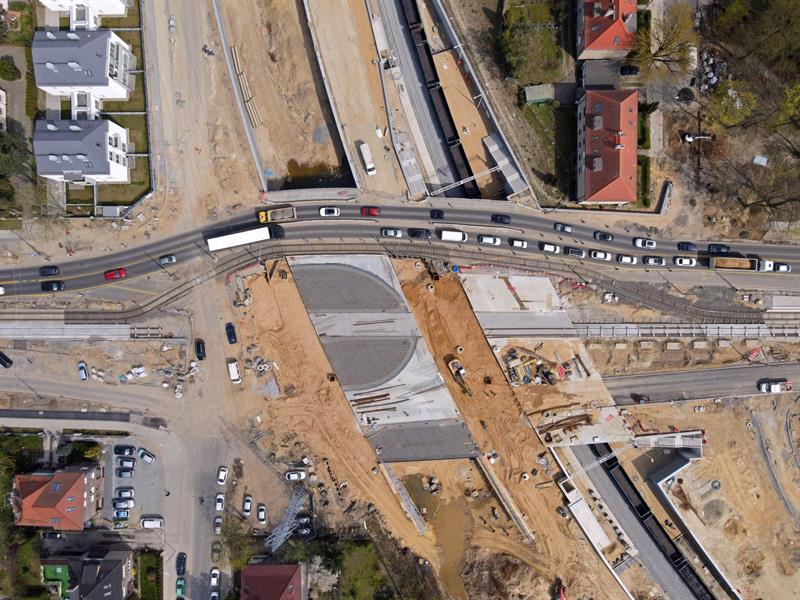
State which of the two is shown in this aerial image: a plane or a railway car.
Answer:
railway car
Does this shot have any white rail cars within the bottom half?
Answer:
No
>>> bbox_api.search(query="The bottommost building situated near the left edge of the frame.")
[38,538,138,600]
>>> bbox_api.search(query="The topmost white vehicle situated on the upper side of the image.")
[357,141,376,175]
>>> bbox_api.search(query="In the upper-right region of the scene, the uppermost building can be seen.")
[578,0,640,65]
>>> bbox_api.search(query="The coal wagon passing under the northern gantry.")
[449,142,479,197]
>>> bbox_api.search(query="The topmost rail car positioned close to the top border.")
[398,0,420,31]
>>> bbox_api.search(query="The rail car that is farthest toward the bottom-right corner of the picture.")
[677,559,720,600]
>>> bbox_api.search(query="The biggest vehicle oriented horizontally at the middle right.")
[712,258,776,273]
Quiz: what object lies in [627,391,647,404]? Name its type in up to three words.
vehicle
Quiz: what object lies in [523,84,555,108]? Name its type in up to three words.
shed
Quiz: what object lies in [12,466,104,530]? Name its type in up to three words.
house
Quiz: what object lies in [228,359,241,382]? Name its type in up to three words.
vehicle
